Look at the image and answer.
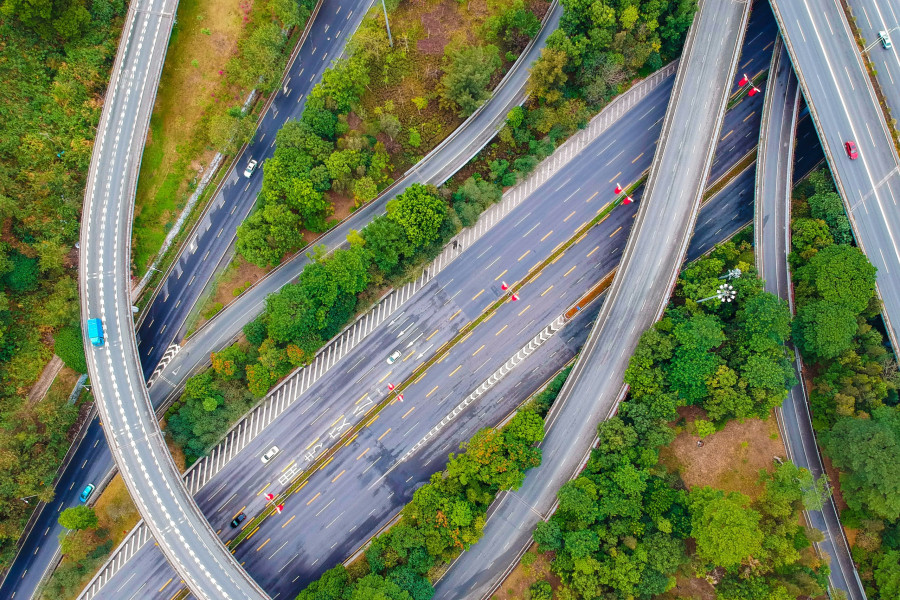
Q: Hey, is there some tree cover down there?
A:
Yes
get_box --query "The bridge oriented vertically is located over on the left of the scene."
[80,0,278,600]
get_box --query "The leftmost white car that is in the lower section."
[261,445,279,463]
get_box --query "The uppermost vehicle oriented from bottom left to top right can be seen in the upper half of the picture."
[243,159,258,177]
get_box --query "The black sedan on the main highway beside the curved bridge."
[229,510,247,529]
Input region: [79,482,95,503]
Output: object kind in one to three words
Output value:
car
